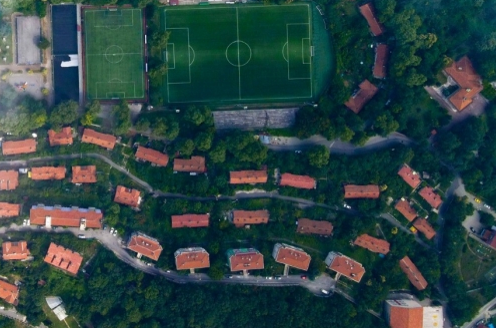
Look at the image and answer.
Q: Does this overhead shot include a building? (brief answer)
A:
Yes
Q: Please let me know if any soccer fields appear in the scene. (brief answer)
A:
Yes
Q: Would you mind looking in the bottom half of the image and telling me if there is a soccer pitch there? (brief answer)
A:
No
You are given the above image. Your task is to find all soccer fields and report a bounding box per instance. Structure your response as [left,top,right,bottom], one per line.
[80,3,150,105]
[158,0,339,111]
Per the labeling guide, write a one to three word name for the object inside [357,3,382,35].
house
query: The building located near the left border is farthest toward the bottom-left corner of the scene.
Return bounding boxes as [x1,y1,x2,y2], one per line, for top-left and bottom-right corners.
[0,278,21,304]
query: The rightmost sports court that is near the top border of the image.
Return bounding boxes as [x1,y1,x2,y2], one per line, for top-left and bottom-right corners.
[50,3,84,106]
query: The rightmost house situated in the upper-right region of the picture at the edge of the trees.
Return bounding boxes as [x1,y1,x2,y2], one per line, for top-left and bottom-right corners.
[439,53,484,113]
